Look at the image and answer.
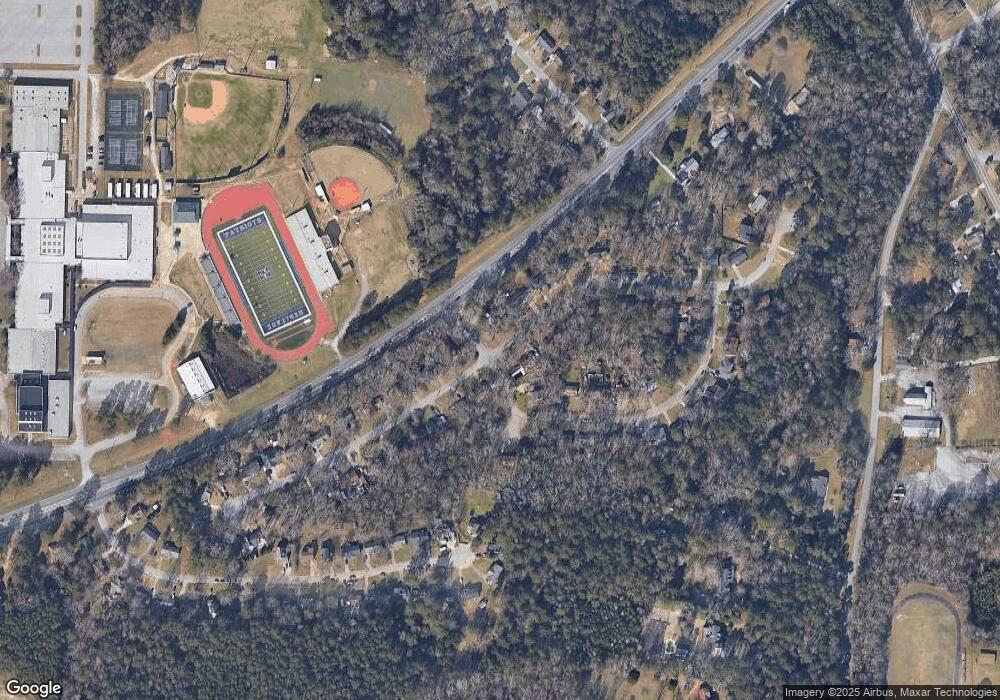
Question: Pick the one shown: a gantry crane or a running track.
running track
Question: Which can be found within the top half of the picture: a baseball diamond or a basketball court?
baseball diamond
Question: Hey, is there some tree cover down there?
Yes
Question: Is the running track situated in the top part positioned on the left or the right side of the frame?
left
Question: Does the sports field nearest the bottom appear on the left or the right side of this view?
right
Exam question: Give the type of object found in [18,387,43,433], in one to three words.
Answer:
building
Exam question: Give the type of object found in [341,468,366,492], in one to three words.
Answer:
house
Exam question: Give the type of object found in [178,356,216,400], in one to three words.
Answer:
building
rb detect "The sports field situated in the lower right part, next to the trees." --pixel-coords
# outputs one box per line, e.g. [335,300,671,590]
[896,597,956,700]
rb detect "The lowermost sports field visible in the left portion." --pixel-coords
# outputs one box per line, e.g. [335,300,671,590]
[209,204,317,346]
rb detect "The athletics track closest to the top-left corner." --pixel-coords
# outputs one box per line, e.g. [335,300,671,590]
[202,182,334,361]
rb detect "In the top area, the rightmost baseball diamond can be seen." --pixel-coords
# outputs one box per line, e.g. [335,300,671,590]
[311,145,394,213]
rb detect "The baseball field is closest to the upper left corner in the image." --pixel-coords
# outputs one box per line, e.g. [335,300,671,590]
[176,72,287,179]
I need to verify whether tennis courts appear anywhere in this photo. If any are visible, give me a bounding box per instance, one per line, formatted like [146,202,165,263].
[109,139,120,164]
[110,100,121,125]
[125,139,138,164]
[126,100,137,125]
